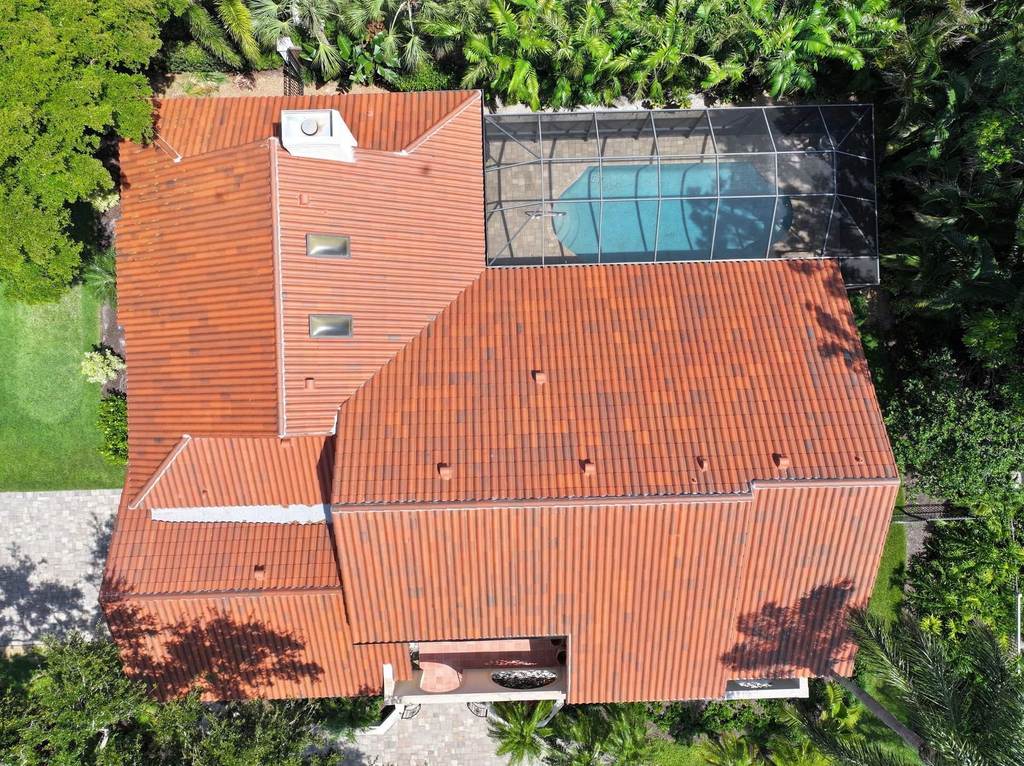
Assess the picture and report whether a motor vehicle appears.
No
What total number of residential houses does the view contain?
1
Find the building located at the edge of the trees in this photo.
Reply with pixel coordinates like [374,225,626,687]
[92,88,905,707]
